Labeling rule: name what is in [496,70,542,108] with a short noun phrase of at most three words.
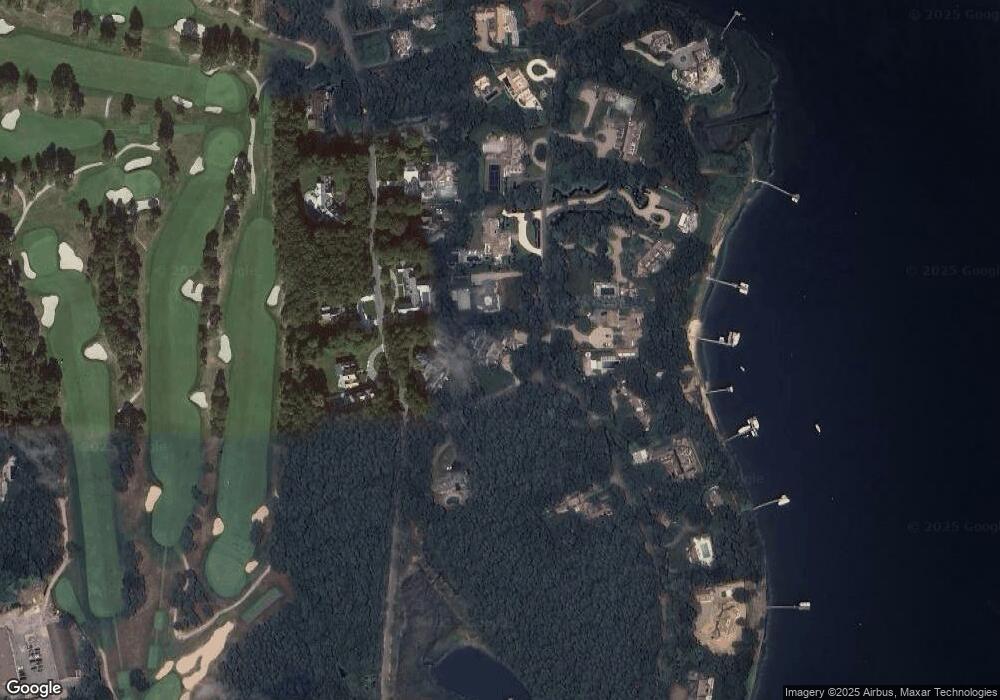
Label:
house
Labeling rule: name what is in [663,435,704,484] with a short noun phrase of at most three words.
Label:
house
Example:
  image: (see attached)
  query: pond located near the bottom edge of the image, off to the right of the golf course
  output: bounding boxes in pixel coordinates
[432,644,531,700]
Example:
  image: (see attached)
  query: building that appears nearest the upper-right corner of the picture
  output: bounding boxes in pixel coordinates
[684,40,724,94]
